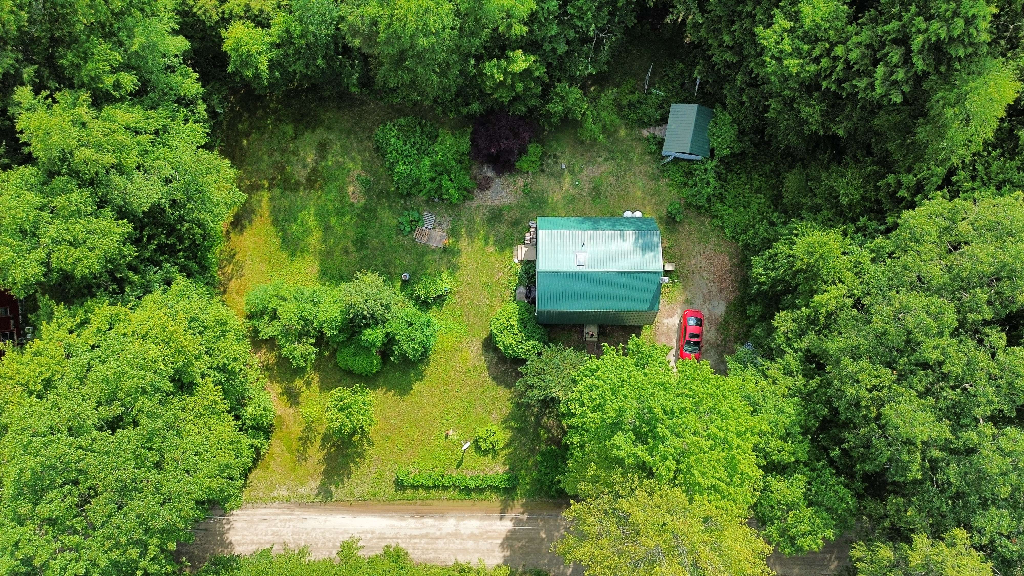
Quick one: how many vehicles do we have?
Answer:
1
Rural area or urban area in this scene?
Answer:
rural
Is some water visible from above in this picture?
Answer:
No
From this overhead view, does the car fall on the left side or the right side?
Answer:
right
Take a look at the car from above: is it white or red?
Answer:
red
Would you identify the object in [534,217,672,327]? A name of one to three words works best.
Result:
house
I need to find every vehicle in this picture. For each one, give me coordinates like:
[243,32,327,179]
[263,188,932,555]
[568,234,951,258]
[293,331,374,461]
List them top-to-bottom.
[678,310,706,368]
